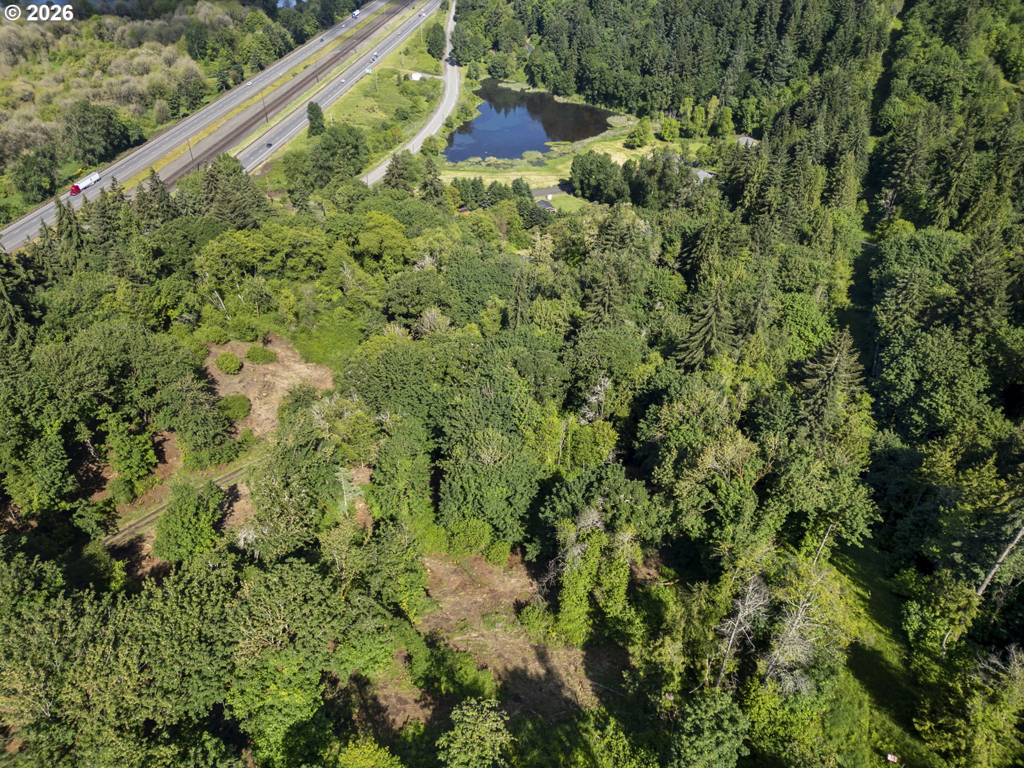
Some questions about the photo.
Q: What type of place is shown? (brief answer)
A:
forest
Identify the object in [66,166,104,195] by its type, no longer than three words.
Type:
truck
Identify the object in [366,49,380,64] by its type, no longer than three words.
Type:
vehicle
